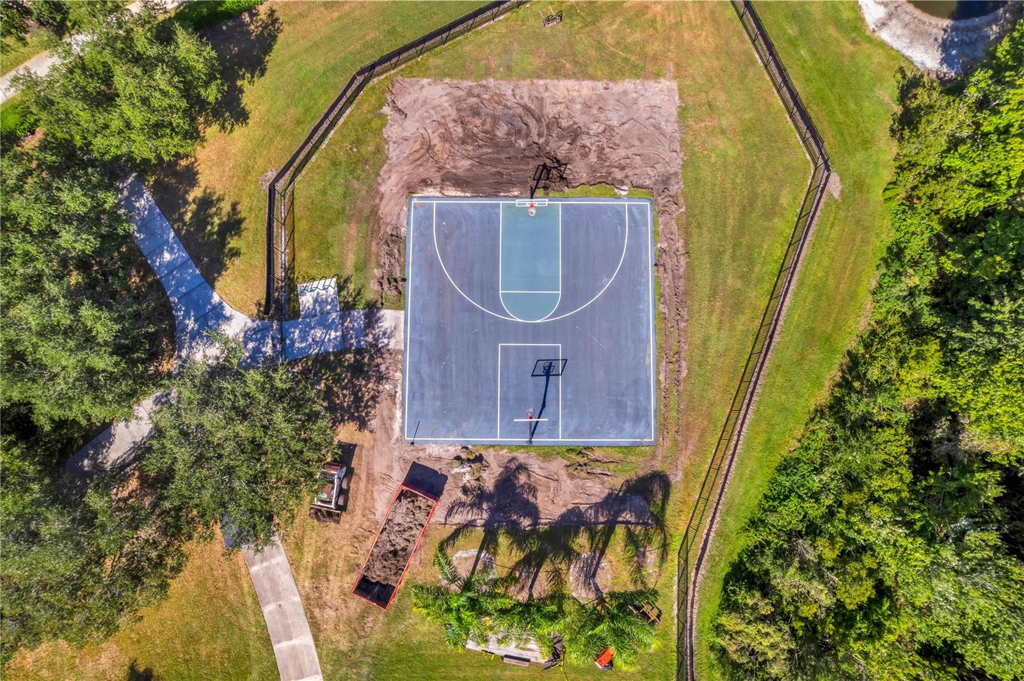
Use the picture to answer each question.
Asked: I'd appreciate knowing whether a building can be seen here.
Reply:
No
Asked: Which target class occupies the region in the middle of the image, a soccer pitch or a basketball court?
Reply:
basketball court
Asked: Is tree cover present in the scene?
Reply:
Yes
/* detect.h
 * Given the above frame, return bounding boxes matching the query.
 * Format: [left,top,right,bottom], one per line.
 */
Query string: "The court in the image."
[402,197,656,445]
